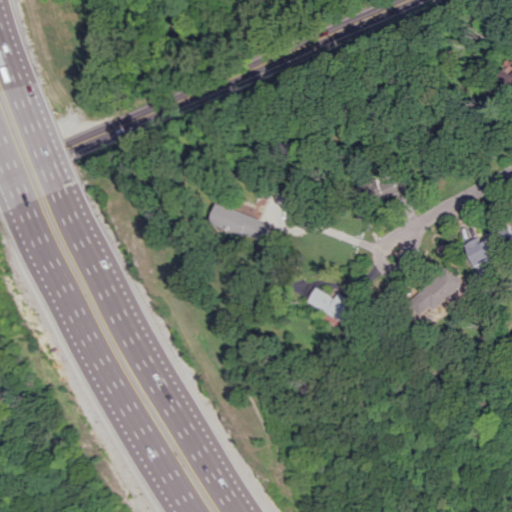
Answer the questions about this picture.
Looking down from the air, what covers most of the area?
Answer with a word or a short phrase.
trees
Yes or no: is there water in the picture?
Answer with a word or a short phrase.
No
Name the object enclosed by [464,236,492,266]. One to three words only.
house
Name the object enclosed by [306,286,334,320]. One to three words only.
house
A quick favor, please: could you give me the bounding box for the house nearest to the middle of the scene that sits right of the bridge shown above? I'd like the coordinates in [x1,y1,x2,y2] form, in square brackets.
[208,202,265,239]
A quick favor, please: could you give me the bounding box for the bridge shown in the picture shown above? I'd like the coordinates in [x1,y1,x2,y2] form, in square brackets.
[0,82,86,214]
